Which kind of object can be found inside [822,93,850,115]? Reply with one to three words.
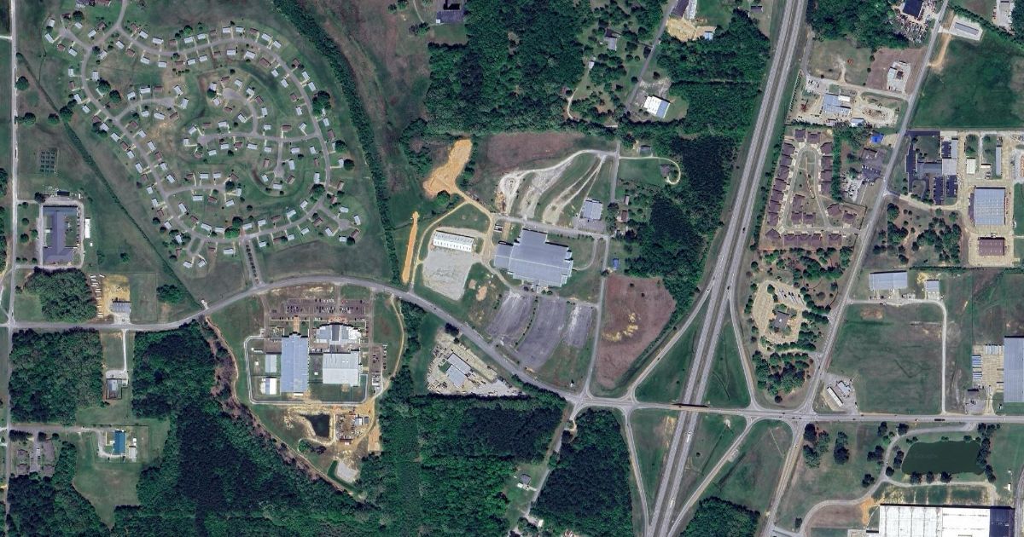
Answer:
building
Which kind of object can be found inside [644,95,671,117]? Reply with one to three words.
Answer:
building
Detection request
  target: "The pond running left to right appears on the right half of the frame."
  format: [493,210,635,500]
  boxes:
[902,441,986,475]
